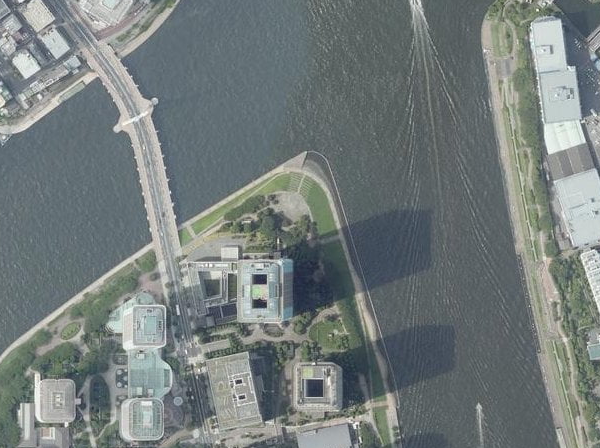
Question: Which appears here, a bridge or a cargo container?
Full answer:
Of the two, only a bridge appears.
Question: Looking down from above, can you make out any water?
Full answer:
Yes, some water is visible.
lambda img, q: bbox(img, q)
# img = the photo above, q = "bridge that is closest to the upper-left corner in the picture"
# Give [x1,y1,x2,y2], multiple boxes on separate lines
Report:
[84,37,180,246]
